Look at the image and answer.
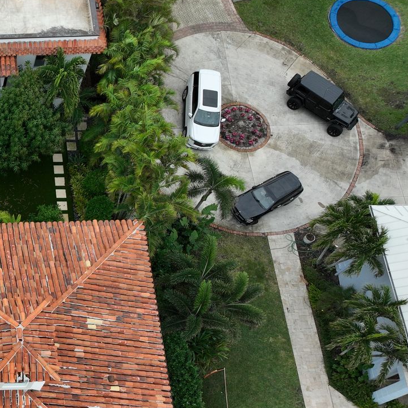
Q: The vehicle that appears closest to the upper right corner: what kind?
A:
automobile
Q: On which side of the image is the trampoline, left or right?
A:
right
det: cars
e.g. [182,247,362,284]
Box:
[183,63,228,152]
[228,164,314,231]
[281,70,361,138]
